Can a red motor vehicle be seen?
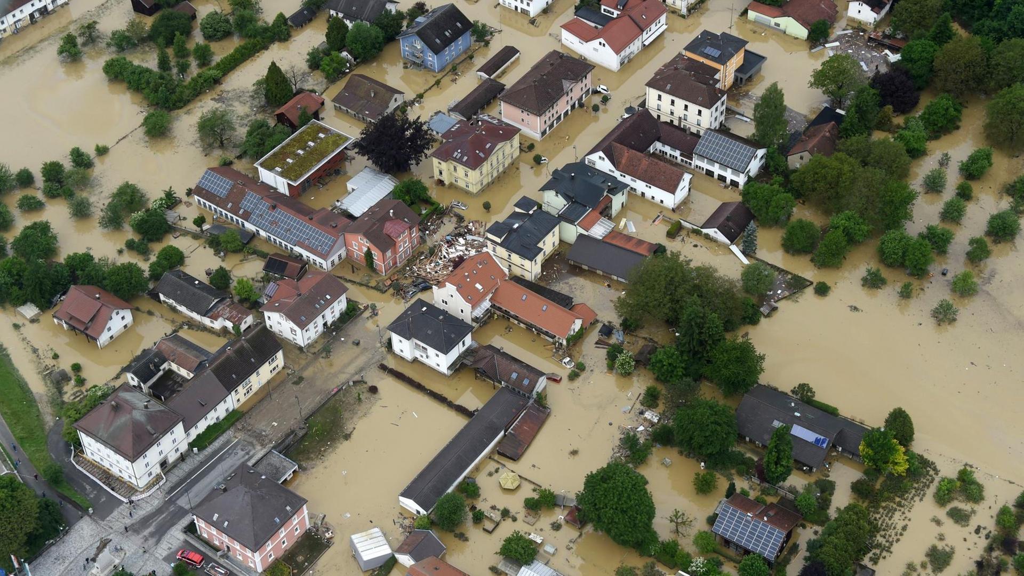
Yes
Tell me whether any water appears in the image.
Yes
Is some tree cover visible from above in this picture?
Yes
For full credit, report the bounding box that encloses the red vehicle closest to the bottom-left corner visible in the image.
[179,550,202,566]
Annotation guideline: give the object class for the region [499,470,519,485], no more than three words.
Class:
umbrella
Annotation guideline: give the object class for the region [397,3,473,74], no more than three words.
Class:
house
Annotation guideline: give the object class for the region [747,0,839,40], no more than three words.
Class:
building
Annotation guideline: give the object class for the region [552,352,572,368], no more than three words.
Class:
vehicle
